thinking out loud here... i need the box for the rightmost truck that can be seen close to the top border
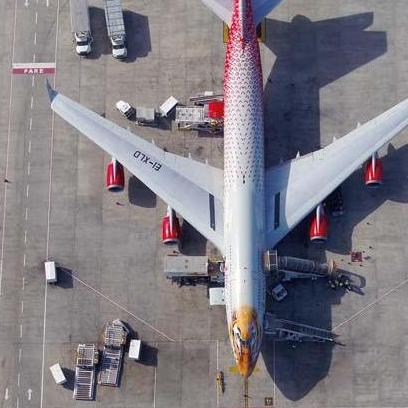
[106,3,128,62]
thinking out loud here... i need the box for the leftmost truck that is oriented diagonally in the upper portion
[116,99,138,122]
